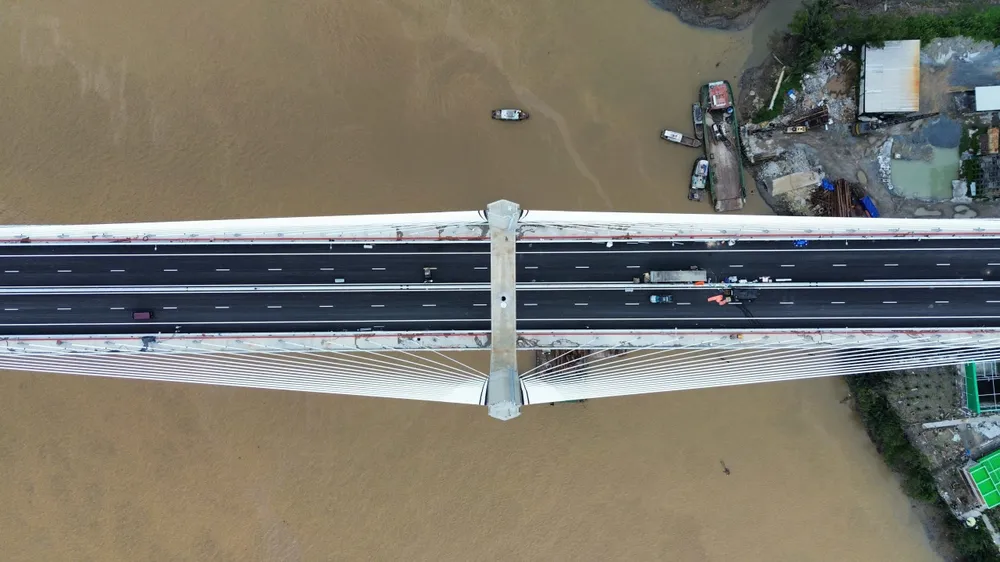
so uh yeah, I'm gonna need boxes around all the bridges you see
[0,190,1000,421]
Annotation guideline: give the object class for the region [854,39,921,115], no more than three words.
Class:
building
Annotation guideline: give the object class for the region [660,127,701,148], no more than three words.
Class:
boat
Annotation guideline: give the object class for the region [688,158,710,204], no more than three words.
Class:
boat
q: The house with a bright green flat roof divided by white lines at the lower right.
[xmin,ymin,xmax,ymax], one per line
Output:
[954,448,1000,510]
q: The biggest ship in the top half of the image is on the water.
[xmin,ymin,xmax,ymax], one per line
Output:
[700,79,747,212]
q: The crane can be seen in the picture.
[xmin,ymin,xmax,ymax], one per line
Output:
[853,109,951,137]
